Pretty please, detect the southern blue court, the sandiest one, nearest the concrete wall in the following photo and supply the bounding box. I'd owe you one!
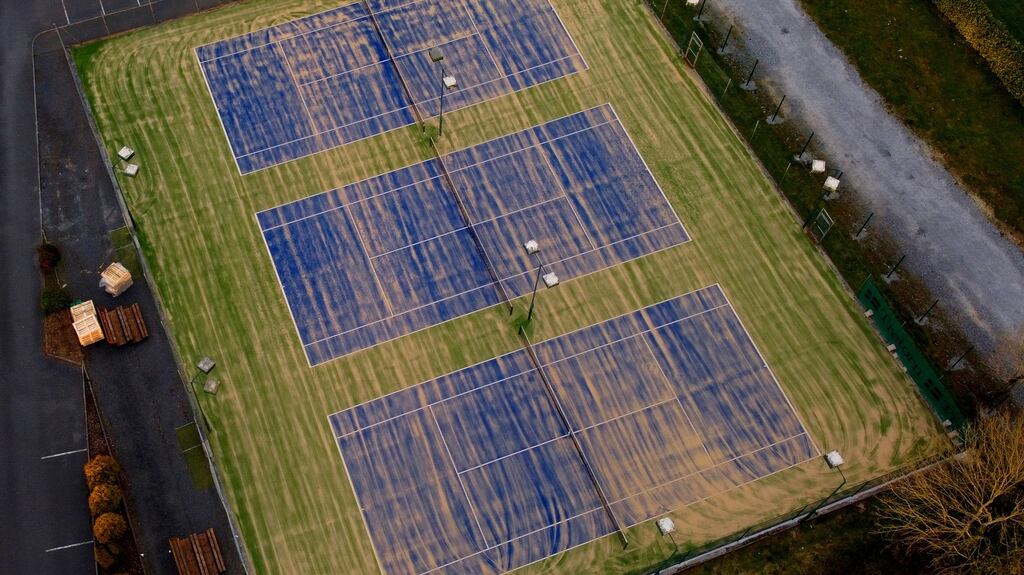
[329,283,819,575]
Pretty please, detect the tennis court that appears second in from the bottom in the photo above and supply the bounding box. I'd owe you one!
[256,103,691,367]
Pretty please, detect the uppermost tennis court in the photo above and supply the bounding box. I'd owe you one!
[197,0,587,174]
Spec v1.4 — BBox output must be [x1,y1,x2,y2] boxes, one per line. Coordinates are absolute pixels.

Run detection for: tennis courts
[256,103,691,367]
[329,283,819,575]
[197,0,587,174]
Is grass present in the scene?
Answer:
Yes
